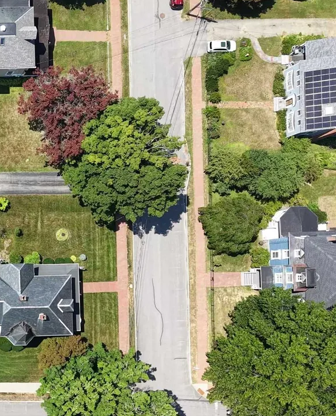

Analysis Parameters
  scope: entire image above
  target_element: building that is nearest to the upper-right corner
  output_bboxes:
[272,38,336,137]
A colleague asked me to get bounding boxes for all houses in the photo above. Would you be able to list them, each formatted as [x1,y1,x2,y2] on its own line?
[0,260,83,346]
[240,205,336,317]
[272,38,336,137]
[0,0,51,79]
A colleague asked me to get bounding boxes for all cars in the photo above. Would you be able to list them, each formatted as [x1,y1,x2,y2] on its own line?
[169,0,184,12]
[206,39,236,54]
